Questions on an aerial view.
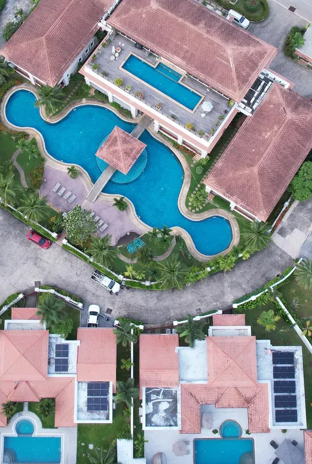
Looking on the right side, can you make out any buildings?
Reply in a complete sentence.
Yes, on the right side there is a building.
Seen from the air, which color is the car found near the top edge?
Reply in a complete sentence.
From above, the car found near the top edge appears white.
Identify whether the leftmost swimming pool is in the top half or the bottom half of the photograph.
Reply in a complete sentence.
You can find the leftmost swimming pool in the bottom half.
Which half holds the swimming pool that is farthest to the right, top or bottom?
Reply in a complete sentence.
The swimming pool that is farthest to the right sits in the bottom half of the picture.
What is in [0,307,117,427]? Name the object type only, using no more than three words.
house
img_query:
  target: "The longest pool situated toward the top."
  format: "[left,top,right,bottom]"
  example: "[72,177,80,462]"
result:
[2,81,242,264]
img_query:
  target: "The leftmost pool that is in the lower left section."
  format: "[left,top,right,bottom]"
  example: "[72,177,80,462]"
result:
[0,414,65,464]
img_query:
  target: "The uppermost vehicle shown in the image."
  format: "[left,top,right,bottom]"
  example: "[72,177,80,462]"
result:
[224,7,250,28]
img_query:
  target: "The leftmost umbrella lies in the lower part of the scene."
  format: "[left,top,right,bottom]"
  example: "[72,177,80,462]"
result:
[171,439,189,458]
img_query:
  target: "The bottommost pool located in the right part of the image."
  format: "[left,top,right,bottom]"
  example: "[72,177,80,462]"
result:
[190,417,258,464]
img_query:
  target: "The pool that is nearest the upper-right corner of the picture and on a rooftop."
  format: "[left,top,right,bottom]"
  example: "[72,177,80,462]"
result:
[119,51,205,115]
